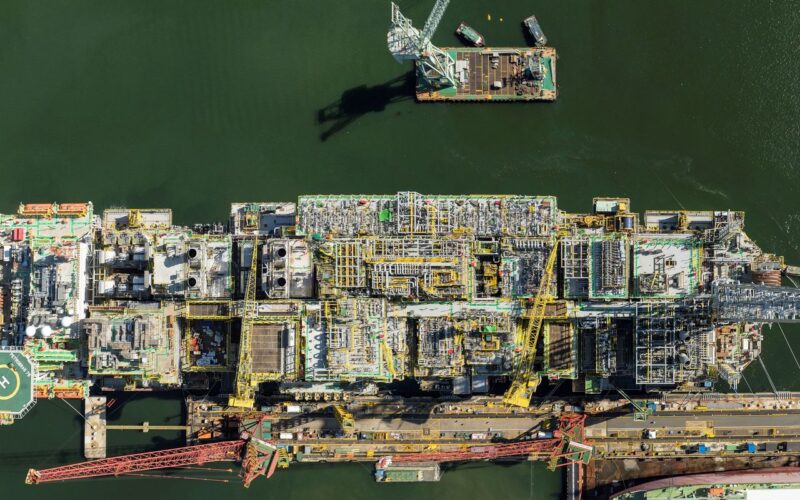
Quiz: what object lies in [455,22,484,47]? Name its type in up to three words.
boat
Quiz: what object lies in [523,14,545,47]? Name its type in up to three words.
boat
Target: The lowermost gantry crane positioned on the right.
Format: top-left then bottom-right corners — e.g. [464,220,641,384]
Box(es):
[383,404,601,500]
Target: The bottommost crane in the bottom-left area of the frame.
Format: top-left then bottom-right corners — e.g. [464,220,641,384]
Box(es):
[21,415,282,490]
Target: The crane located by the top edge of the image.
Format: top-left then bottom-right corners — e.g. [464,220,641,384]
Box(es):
[389,0,457,95]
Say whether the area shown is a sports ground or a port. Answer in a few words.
port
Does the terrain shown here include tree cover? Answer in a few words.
No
